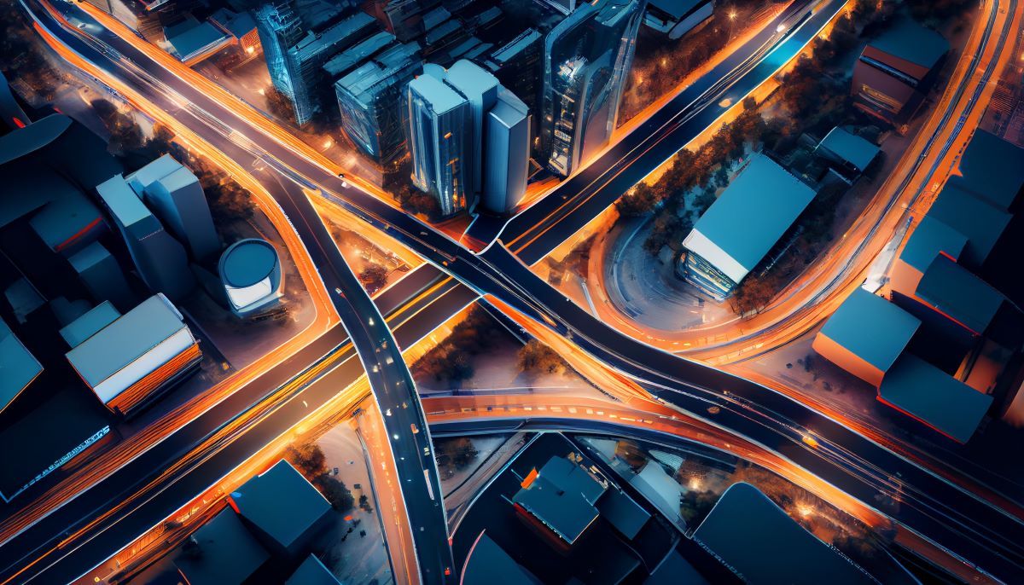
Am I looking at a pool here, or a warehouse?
warehouse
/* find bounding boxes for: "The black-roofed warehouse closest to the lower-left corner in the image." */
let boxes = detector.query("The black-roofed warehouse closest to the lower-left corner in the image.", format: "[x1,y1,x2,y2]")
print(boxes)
[0,380,122,514]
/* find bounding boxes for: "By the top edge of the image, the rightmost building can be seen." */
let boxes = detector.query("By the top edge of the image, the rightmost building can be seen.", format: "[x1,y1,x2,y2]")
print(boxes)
[847,16,950,117]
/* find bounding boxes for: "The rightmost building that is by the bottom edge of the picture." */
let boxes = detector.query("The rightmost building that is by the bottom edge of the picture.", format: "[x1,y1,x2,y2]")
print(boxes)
[685,484,876,585]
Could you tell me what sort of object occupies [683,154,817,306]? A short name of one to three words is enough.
building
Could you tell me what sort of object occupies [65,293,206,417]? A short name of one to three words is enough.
building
